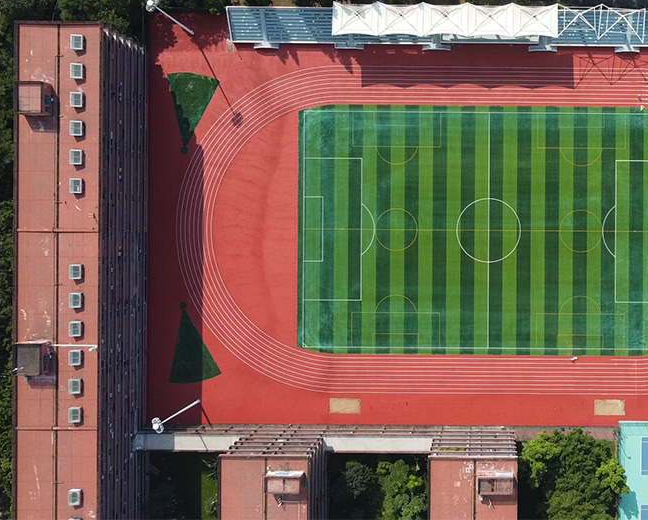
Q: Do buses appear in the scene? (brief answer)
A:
No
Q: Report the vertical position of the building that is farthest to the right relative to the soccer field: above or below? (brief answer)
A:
below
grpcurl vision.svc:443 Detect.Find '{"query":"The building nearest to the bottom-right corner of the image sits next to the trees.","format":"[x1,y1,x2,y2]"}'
[430,435,518,520]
